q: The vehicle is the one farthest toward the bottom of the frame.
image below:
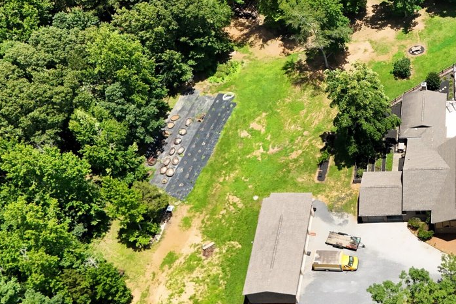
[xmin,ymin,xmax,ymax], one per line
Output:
[310,250,359,273]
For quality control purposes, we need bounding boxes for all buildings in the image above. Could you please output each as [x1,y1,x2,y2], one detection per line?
[398,84,456,233]
[242,188,314,301]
